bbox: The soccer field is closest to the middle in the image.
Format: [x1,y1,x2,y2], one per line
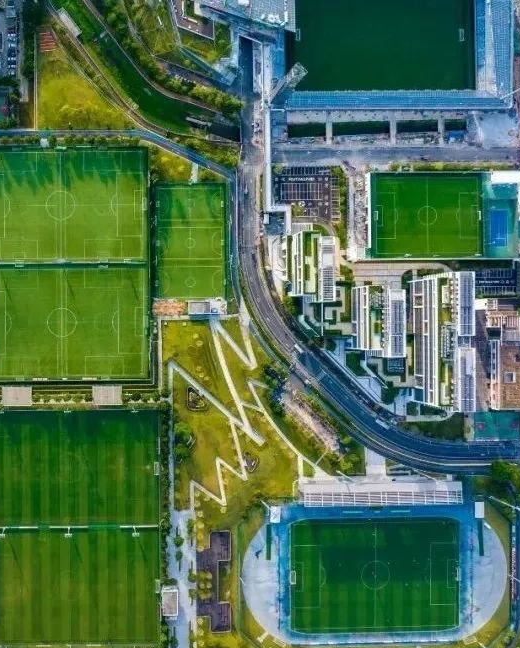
[152,182,229,302]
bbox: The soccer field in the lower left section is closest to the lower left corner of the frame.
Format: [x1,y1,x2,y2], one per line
[0,528,165,648]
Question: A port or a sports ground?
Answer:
sports ground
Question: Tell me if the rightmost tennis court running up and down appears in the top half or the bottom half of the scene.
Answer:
top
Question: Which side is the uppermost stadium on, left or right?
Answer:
right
